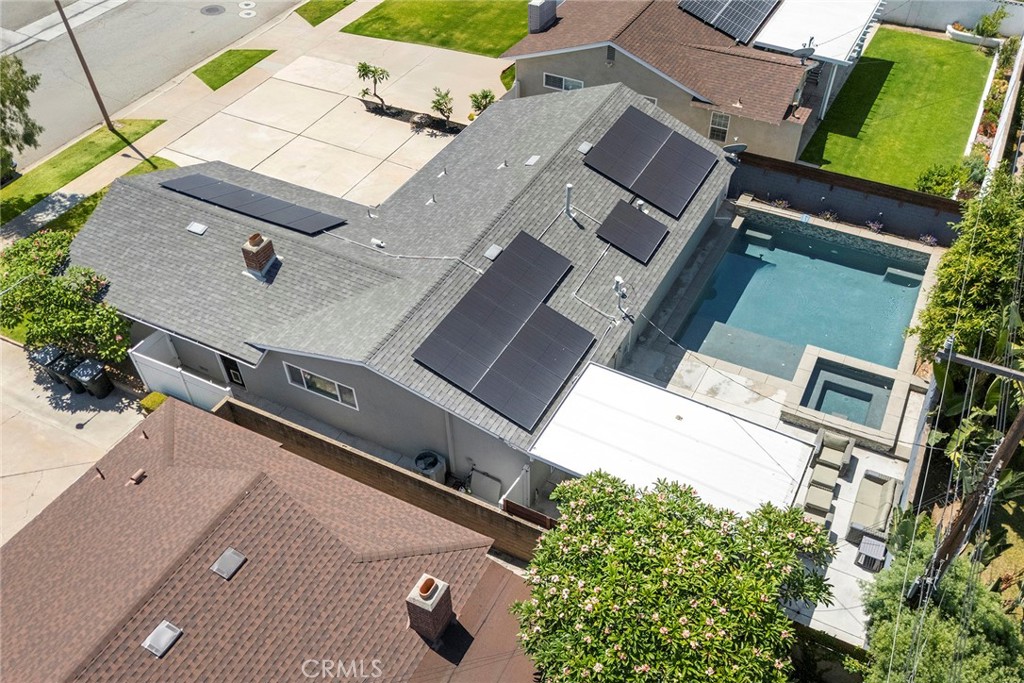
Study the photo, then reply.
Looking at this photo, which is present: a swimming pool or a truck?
swimming pool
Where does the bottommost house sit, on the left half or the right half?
left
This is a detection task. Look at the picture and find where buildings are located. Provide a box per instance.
[54,83,737,504]
[0,395,495,683]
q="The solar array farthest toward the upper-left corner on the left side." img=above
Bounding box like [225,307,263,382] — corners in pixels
[162,173,345,235]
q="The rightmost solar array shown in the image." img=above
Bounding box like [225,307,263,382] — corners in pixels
[681,0,775,39]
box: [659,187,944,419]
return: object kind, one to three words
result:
swimming pool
